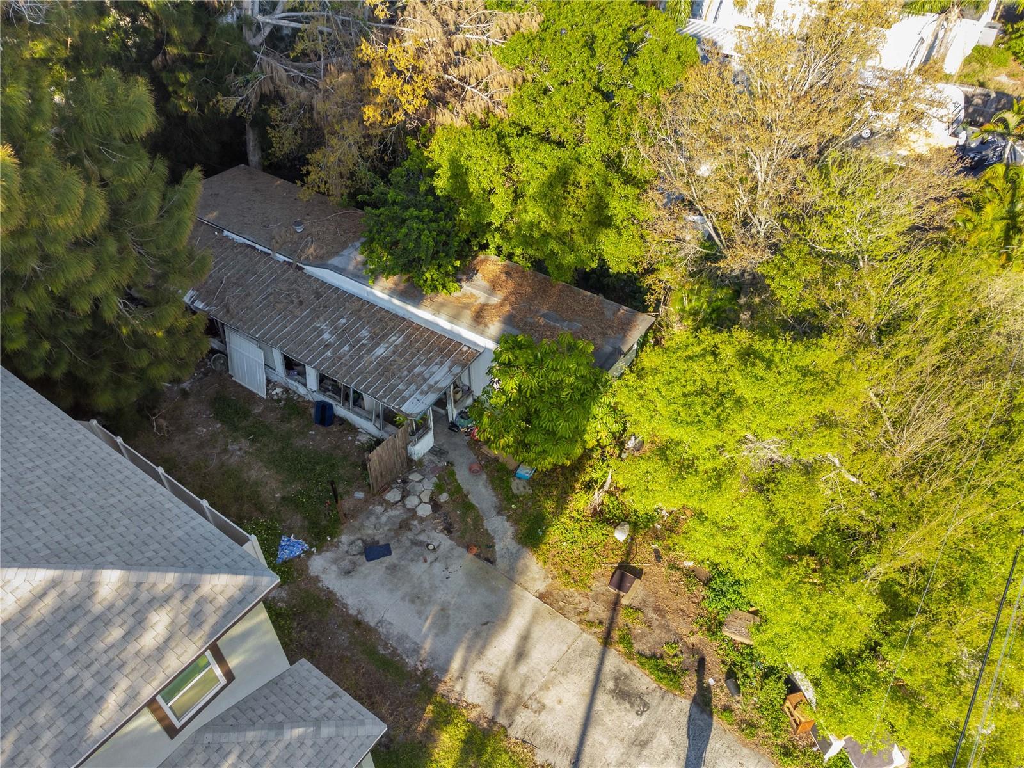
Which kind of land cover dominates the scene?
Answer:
trees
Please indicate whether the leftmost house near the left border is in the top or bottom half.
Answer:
bottom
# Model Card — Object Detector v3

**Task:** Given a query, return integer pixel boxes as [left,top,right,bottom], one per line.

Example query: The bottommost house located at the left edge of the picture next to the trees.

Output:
[0,375,391,768]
